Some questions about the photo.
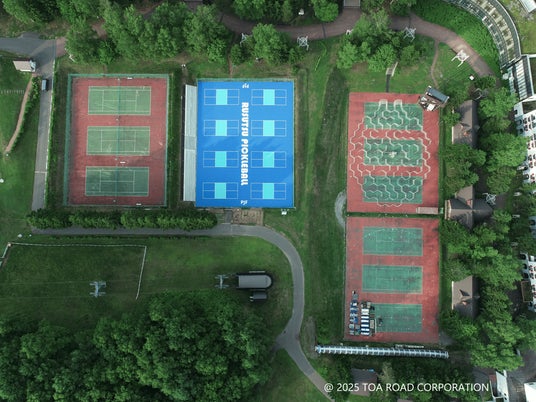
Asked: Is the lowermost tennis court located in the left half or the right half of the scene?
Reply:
right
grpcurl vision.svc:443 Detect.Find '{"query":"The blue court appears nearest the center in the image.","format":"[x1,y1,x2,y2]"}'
[251,183,286,199]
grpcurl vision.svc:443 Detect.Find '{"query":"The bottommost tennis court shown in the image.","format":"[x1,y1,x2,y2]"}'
[345,299,439,341]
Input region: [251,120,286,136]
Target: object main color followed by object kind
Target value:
blue sports court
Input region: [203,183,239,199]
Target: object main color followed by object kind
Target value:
blue sports court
